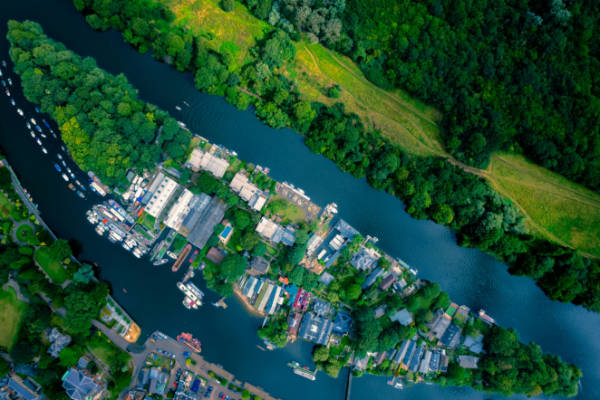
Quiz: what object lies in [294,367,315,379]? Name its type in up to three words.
vessel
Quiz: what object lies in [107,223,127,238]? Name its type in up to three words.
ship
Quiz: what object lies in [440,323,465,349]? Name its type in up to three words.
house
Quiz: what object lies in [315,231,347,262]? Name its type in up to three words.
building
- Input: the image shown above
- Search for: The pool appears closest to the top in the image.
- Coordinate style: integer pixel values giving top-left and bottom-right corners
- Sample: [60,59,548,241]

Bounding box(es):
[217,221,236,243]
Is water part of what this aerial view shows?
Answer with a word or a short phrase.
Yes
